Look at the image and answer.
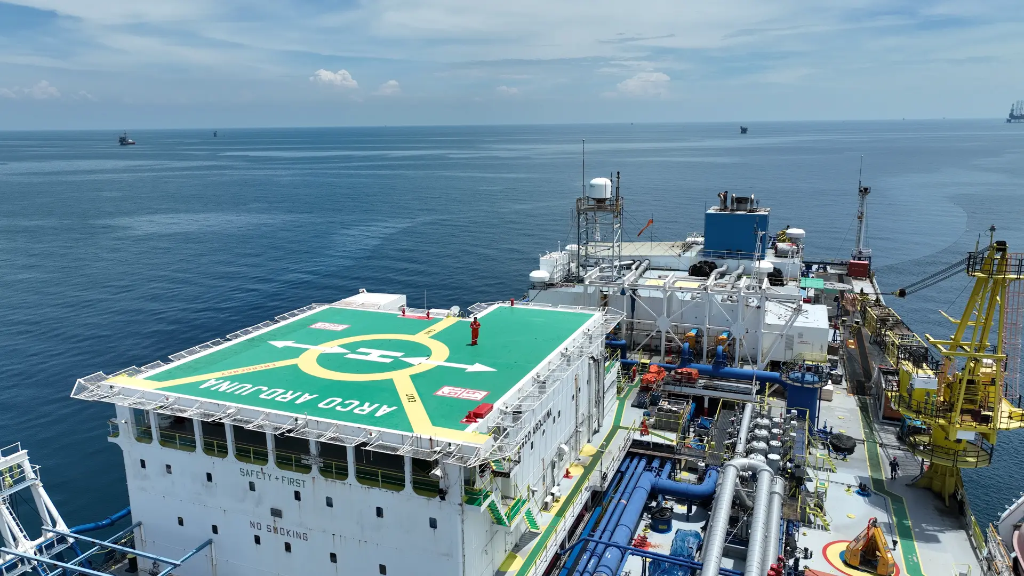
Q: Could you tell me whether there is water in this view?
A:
Yes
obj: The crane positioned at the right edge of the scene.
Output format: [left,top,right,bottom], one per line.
[891,222,1024,507]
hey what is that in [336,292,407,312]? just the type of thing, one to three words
house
